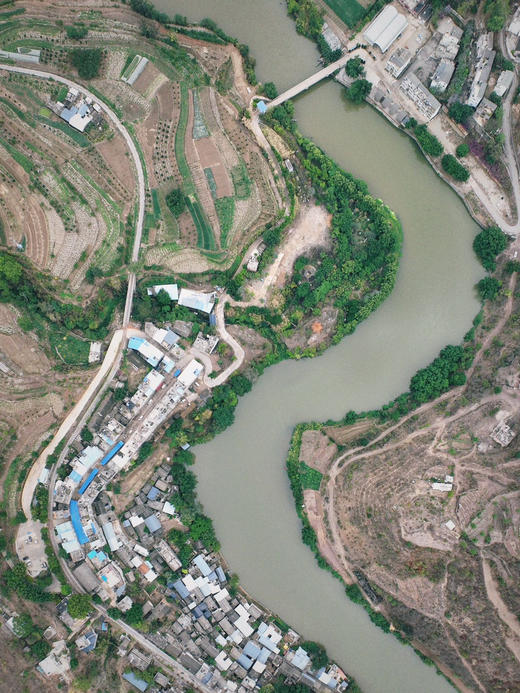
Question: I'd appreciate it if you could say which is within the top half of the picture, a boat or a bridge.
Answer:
bridge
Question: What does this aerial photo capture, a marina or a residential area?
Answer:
residential area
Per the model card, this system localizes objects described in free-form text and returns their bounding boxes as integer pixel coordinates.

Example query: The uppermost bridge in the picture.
[263,53,353,112]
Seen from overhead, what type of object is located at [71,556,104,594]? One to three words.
house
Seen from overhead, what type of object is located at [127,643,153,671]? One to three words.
house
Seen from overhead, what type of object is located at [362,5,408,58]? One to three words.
building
